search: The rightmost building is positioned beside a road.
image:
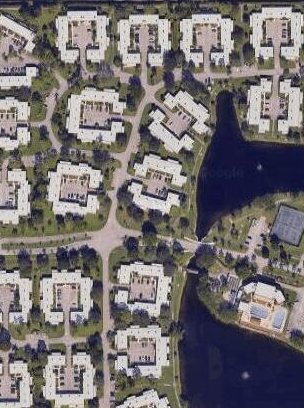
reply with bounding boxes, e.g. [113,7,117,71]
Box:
[280,80,304,132]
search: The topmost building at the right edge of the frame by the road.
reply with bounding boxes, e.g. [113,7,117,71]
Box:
[250,7,304,62]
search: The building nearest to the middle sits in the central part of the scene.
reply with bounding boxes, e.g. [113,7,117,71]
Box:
[129,182,181,214]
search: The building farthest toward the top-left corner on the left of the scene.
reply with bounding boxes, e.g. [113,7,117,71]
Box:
[0,13,36,51]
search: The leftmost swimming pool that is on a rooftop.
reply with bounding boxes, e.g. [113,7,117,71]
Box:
[249,305,270,319]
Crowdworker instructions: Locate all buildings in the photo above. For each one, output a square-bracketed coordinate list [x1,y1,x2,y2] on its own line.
[69,89,124,143]
[0,271,32,326]
[237,281,288,335]
[280,80,304,132]
[0,68,35,90]
[40,271,94,326]
[114,388,169,408]
[115,264,169,317]
[0,13,36,51]
[43,351,96,406]
[49,162,104,216]
[0,361,33,408]
[162,90,210,134]
[181,14,234,69]
[250,7,304,62]
[115,326,169,379]
[57,11,109,65]
[129,182,181,214]
[248,80,273,132]
[134,153,185,186]
[0,169,30,224]
[118,14,171,69]
[149,108,195,153]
